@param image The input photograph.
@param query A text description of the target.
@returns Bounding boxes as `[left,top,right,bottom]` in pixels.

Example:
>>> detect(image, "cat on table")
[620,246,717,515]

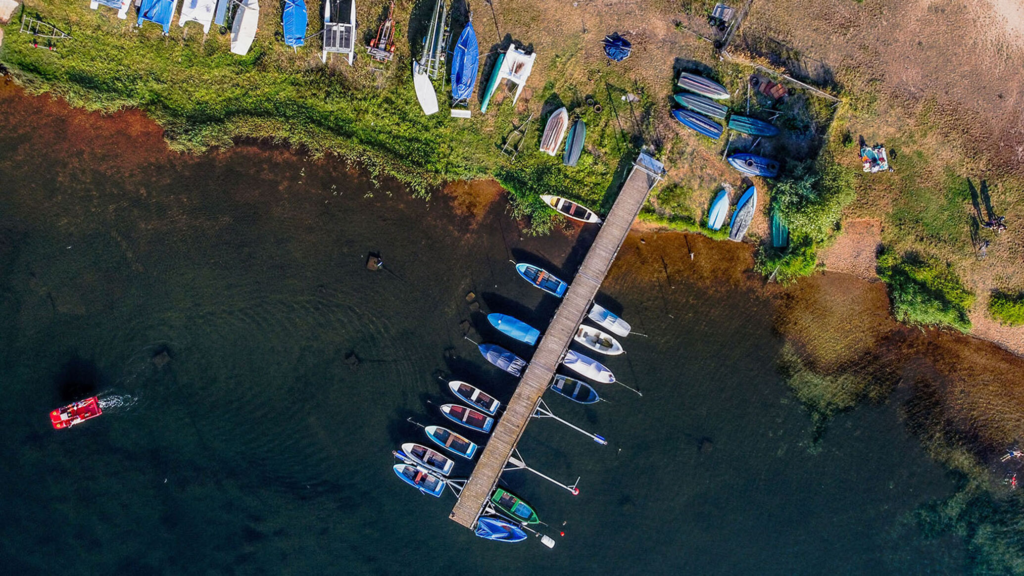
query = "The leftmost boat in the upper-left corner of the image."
[92,0,132,22]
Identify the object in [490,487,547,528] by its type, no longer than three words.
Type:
boat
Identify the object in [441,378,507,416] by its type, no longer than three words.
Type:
boat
